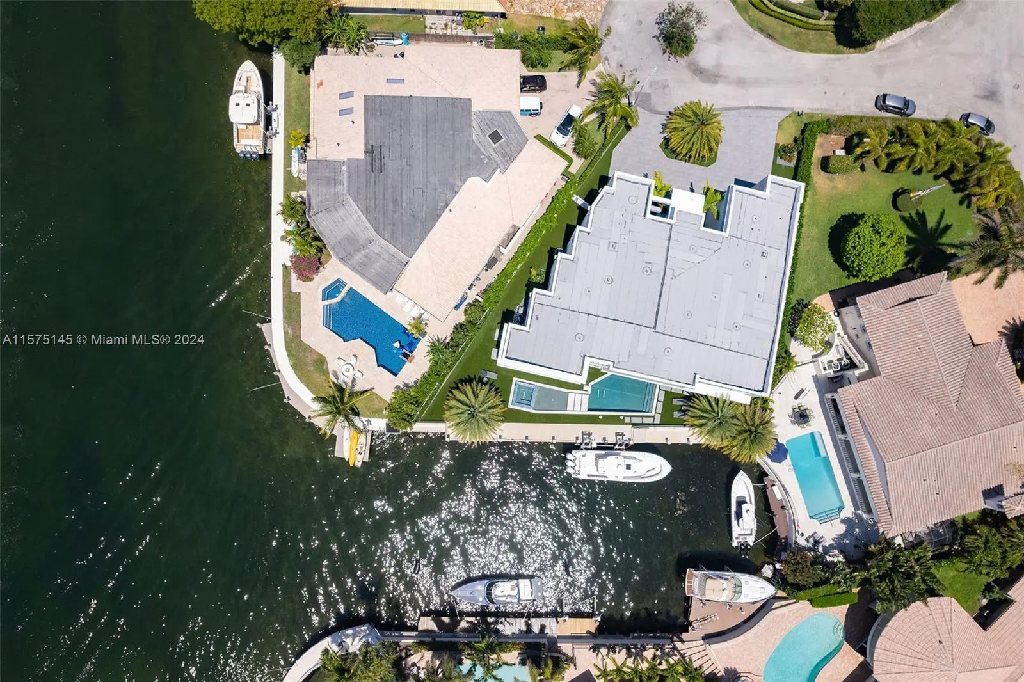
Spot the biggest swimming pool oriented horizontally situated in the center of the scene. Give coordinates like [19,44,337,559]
[509,373,660,416]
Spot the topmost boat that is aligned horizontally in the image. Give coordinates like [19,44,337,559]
[565,450,673,483]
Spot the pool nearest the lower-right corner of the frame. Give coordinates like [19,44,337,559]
[760,613,845,682]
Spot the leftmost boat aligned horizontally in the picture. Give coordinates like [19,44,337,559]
[449,579,543,607]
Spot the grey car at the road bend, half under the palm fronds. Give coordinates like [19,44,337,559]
[960,108,1002,135]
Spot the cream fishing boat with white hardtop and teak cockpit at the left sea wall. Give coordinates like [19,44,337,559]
[227,58,265,160]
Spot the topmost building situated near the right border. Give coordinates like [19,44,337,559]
[815,271,1024,534]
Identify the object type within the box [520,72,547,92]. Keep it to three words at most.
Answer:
car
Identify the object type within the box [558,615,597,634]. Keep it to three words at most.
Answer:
pier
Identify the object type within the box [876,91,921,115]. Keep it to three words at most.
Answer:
car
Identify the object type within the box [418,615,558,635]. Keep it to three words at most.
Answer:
pier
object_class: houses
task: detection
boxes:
[497,172,804,405]
[307,42,569,322]
[865,572,1024,682]
[336,0,507,20]
[815,271,1024,534]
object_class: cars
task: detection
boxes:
[520,93,543,115]
[960,108,1002,135]
[551,100,584,148]
[876,91,921,115]
[520,72,547,92]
